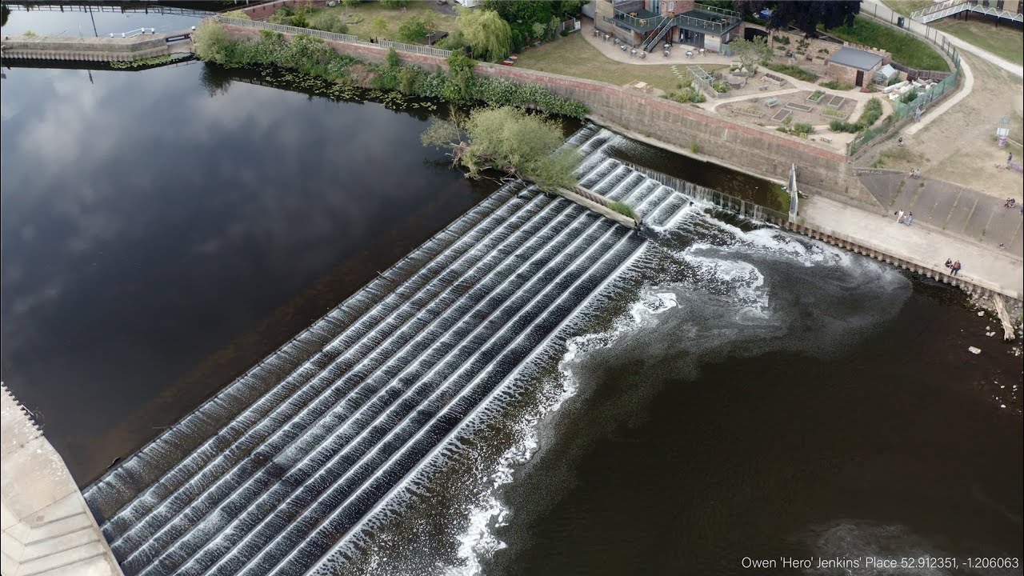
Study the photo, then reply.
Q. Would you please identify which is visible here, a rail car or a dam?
dam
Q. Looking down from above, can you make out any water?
Yes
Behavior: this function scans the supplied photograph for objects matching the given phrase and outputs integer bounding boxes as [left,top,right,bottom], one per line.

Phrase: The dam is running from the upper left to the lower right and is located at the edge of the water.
[552,123,689,229]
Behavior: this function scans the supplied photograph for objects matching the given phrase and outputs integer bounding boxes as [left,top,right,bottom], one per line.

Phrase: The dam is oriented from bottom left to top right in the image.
[80,180,644,576]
